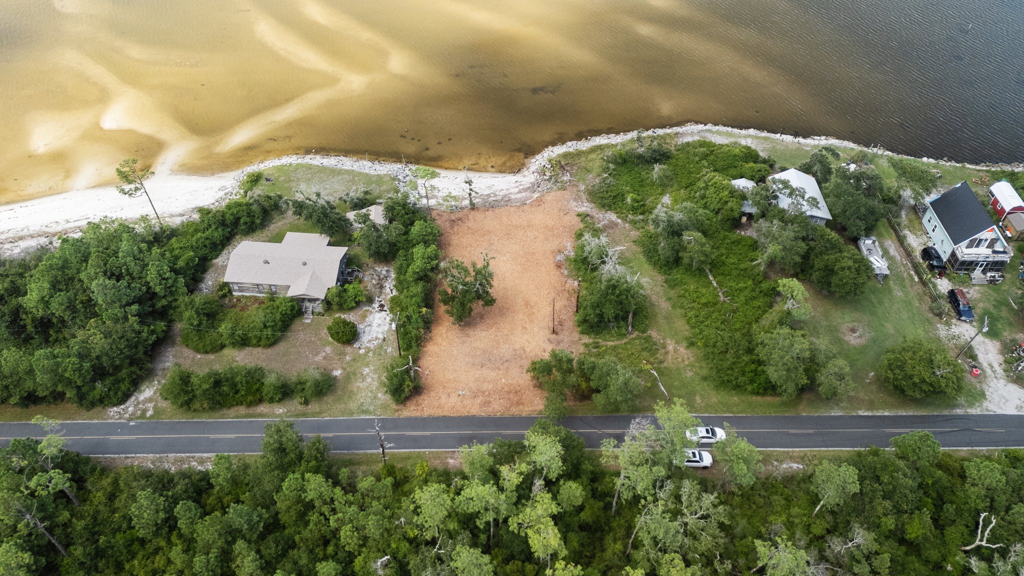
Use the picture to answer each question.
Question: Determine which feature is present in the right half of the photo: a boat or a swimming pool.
boat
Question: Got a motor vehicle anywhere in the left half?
No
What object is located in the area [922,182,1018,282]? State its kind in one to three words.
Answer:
house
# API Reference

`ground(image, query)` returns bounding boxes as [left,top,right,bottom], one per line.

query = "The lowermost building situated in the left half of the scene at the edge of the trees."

[223,233,373,326]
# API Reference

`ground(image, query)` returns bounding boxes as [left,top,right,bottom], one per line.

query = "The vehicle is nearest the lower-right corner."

[945,289,973,322]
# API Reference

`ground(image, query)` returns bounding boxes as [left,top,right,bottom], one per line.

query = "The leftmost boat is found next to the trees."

[862,232,893,271]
